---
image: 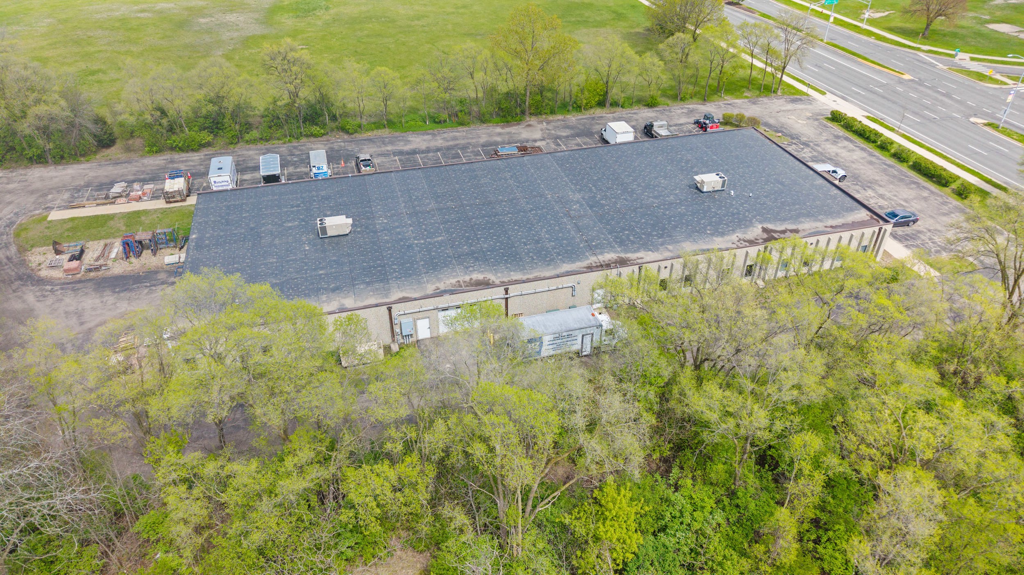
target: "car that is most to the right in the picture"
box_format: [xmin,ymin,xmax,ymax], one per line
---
[883,208,922,227]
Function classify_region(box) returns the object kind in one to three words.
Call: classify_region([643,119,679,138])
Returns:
vehicle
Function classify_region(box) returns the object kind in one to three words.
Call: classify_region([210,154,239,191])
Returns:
trailer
